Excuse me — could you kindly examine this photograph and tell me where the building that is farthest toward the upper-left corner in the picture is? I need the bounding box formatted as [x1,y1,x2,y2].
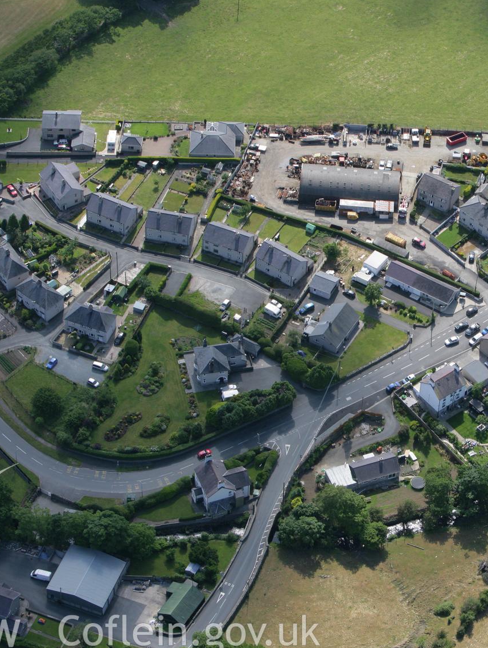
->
[42,110,82,140]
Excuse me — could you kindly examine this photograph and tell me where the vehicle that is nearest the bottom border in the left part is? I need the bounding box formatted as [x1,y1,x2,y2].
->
[30,566,52,581]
